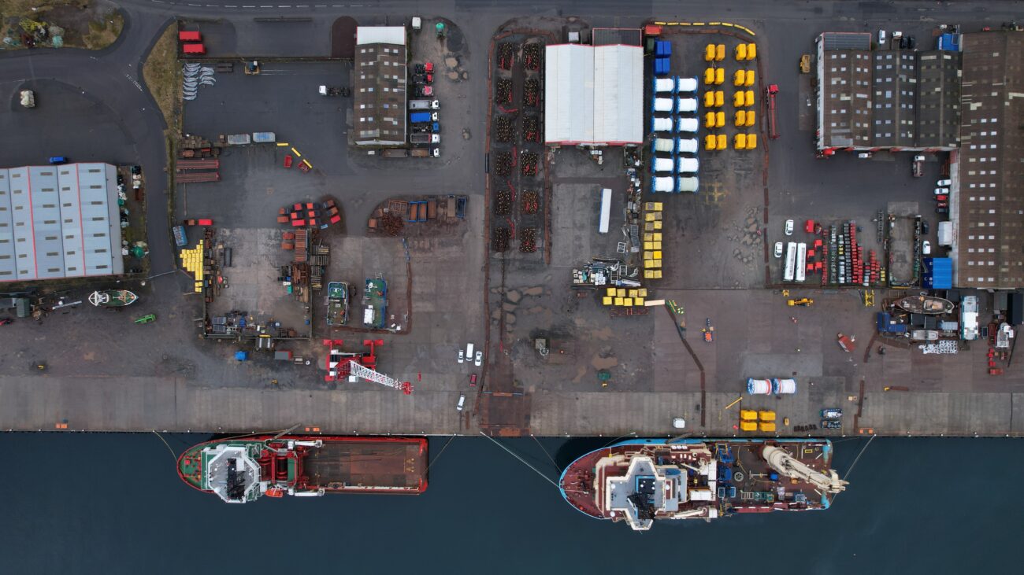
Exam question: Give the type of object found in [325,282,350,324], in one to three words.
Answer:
ship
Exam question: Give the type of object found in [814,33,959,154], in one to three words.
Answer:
building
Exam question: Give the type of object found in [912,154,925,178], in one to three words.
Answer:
vehicle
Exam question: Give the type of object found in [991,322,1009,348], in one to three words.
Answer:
boat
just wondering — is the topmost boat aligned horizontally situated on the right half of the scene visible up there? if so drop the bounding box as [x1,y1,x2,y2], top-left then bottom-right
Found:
[897,296,956,314]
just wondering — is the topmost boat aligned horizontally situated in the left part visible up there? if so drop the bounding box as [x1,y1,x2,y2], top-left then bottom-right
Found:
[88,289,138,307]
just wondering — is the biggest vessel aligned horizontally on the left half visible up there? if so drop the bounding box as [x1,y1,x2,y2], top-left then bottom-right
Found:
[177,435,429,503]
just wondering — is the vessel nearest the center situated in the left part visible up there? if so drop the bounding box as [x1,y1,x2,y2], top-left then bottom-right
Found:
[361,274,387,326]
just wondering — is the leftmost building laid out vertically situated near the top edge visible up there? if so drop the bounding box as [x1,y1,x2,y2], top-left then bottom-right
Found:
[355,25,408,149]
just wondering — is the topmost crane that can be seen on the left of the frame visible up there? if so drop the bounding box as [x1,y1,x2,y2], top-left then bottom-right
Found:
[324,339,411,395]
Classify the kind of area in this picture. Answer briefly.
port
